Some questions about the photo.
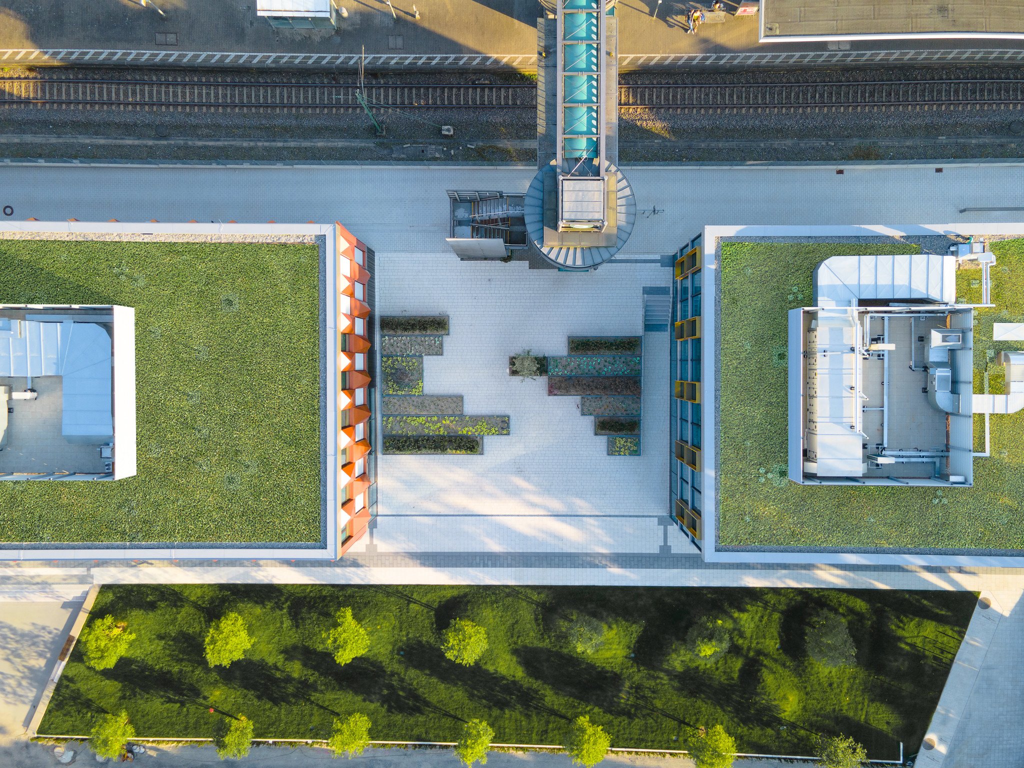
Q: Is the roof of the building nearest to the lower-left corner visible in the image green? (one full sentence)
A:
Yes, green is the color of the roof of the building nearest to the lower-left corner.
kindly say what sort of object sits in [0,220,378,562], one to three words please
building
